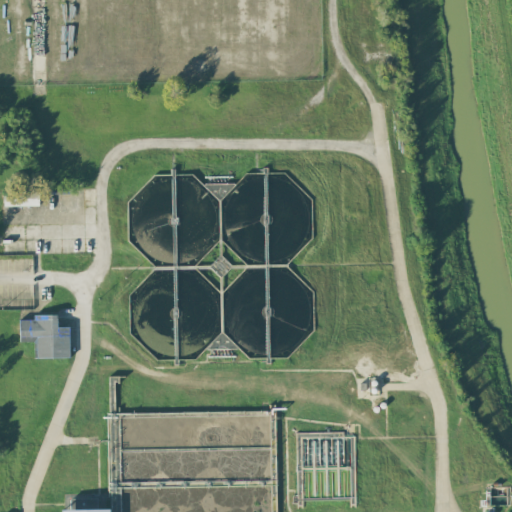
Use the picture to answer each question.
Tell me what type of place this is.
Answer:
industrial area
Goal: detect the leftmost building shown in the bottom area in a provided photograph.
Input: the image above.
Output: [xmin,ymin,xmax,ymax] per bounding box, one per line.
[20,315,70,359]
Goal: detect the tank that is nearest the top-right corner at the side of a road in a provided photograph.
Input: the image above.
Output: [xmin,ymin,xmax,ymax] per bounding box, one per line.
[221,166,314,266]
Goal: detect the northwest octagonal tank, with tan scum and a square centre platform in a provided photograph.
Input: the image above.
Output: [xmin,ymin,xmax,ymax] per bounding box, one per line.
[129,168,221,267]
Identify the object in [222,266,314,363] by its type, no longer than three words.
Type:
storage tank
